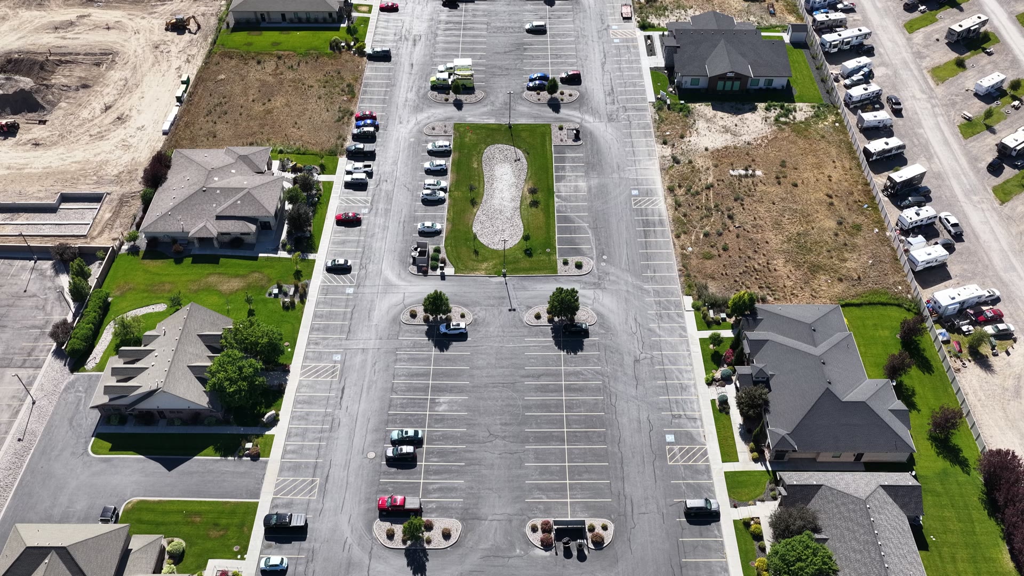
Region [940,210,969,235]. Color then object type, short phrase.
white truck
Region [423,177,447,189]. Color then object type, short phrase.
white vehicle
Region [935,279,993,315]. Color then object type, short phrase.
white trailer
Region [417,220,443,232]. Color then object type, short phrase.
white vehicle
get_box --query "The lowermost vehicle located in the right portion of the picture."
[682,496,721,515]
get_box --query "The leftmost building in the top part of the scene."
[139,147,286,250]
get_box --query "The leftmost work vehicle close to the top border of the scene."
[161,13,205,33]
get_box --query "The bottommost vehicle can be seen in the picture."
[257,552,292,570]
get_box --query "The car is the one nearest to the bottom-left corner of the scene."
[98,495,122,523]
